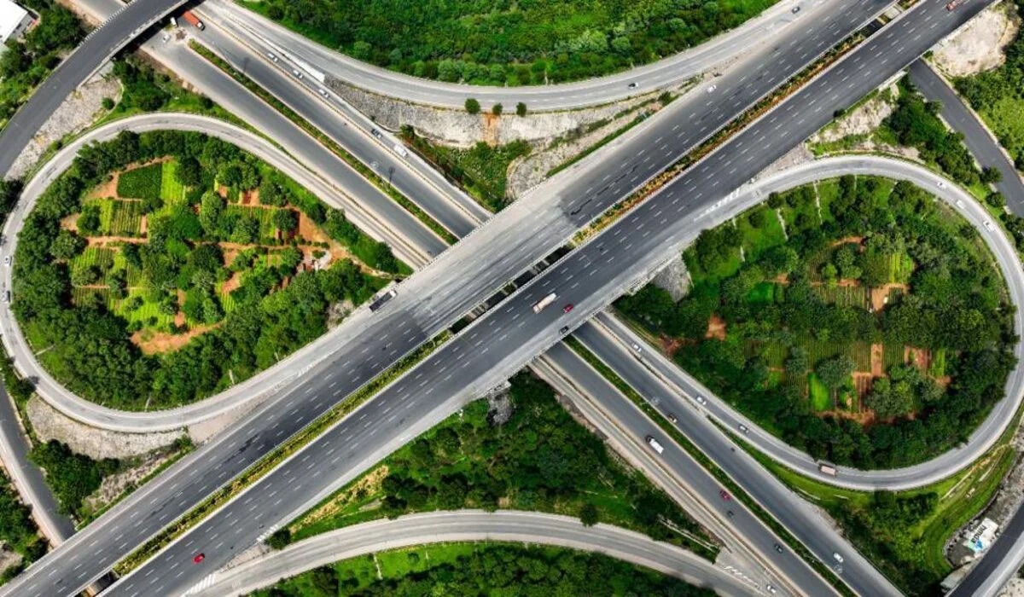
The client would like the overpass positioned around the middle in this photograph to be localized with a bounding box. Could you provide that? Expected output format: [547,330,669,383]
[440,238,601,392]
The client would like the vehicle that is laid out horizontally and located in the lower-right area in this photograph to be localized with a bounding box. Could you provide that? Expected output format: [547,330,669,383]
[819,464,838,476]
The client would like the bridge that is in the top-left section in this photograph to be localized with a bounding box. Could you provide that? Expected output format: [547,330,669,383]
[94,0,186,56]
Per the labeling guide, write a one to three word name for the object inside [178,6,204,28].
truck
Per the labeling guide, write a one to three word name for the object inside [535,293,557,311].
vehicle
